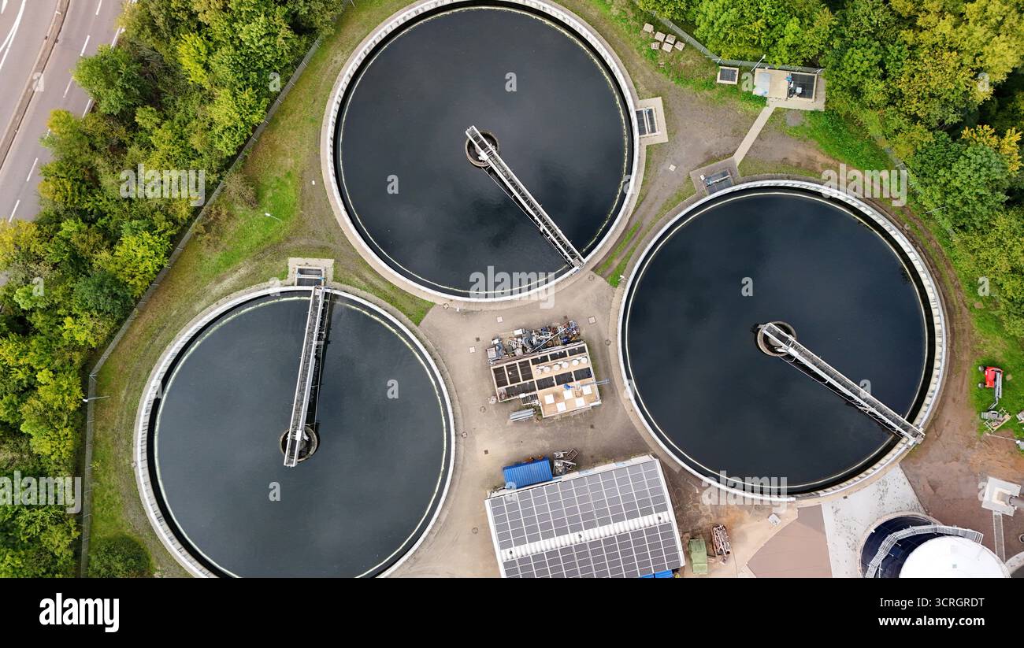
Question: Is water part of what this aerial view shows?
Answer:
Yes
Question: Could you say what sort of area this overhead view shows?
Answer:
industrial area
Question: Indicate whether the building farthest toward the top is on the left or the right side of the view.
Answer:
right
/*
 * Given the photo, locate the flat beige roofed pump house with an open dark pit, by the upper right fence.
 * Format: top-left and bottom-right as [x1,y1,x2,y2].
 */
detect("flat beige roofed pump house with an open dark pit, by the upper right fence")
[750,69,816,104]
